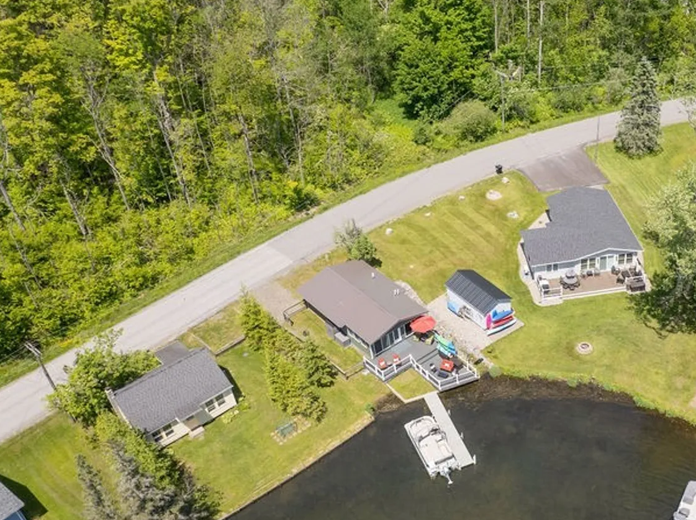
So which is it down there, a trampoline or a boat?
boat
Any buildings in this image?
Yes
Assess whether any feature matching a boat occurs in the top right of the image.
No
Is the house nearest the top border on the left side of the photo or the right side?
right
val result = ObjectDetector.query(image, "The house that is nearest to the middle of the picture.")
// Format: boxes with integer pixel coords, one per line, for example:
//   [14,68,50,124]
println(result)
[300,261,429,360]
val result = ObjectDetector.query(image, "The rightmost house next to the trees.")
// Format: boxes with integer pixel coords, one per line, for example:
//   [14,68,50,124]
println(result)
[517,185,646,282]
